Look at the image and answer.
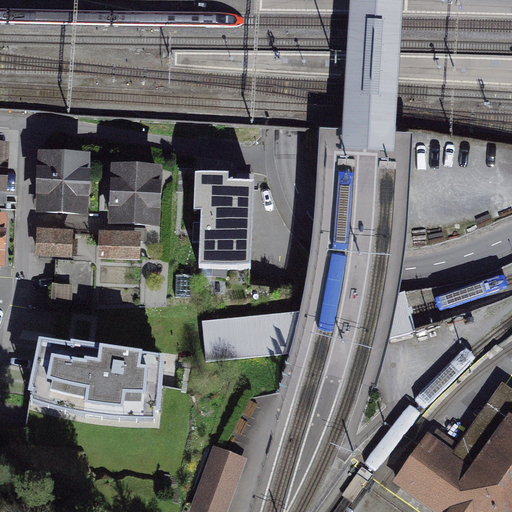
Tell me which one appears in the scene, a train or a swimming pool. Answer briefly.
train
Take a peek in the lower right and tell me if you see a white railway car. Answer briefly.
Yes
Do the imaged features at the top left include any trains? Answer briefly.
Yes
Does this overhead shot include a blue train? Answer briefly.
Yes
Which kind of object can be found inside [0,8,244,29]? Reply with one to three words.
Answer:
train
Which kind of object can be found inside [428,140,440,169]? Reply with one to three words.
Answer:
vehicle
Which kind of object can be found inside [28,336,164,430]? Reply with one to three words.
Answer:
building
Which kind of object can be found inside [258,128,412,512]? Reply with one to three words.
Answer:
train station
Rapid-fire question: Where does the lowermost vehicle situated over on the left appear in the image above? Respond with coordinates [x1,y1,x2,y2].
[6,356,32,368]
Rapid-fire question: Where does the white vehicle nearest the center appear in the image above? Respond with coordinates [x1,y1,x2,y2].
[261,188,274,214]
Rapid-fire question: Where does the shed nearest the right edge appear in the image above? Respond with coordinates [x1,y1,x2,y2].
[454,382,512,461]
